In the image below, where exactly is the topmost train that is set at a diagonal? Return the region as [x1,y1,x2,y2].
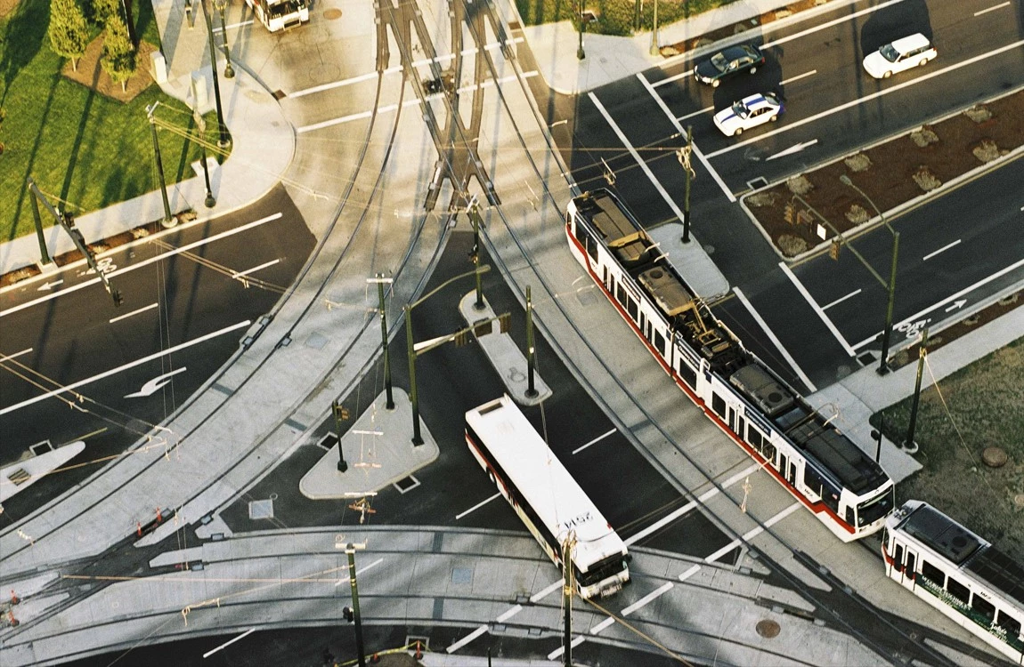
[565,196,900,544]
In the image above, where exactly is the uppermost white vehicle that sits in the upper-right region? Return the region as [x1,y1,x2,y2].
[863,28,938,75]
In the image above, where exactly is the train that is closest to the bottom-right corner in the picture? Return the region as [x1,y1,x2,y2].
[879,502,1024,659]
